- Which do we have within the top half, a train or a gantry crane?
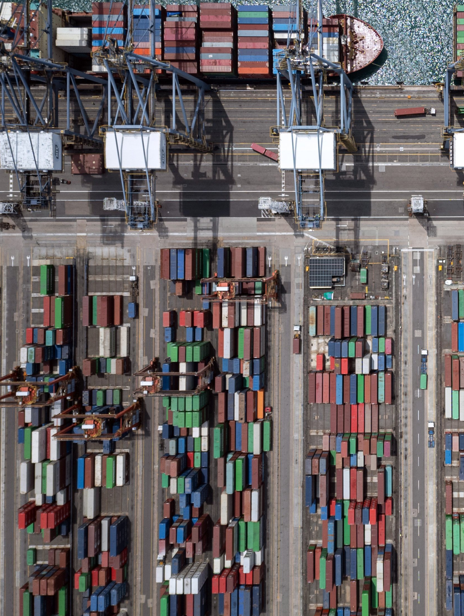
gantry crane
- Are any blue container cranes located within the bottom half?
No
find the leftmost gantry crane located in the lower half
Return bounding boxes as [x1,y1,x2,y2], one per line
[0,369,71,409]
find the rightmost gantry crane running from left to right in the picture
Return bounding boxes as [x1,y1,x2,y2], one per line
[200,270,278,304]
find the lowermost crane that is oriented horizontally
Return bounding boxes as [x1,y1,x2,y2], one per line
[49,400,137,442]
